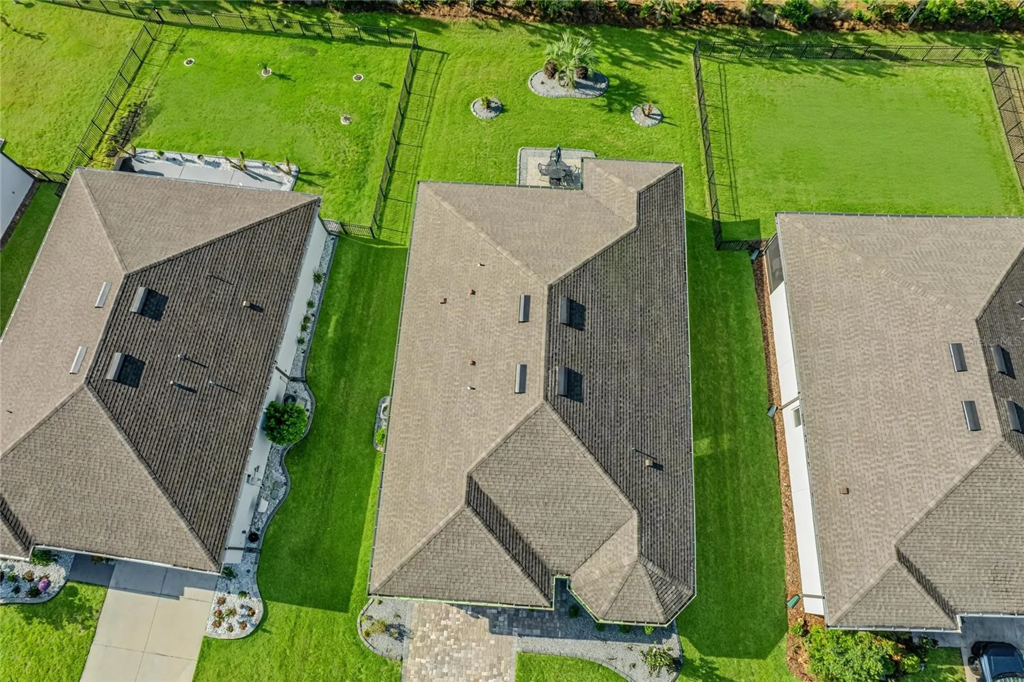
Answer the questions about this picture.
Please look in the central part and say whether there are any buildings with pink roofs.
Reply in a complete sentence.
No, I see no building with a pink roof in the central part.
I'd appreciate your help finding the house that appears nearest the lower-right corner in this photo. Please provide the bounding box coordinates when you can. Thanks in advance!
[757,213,1024,633]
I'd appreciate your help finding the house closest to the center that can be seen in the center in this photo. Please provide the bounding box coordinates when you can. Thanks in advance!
[367,158,697,626]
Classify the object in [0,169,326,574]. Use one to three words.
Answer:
house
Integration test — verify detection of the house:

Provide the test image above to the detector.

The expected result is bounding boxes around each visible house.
[0,141,34,242]
[367,158,697,626]
[757,213,1024,633]
[0,169,326,574]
